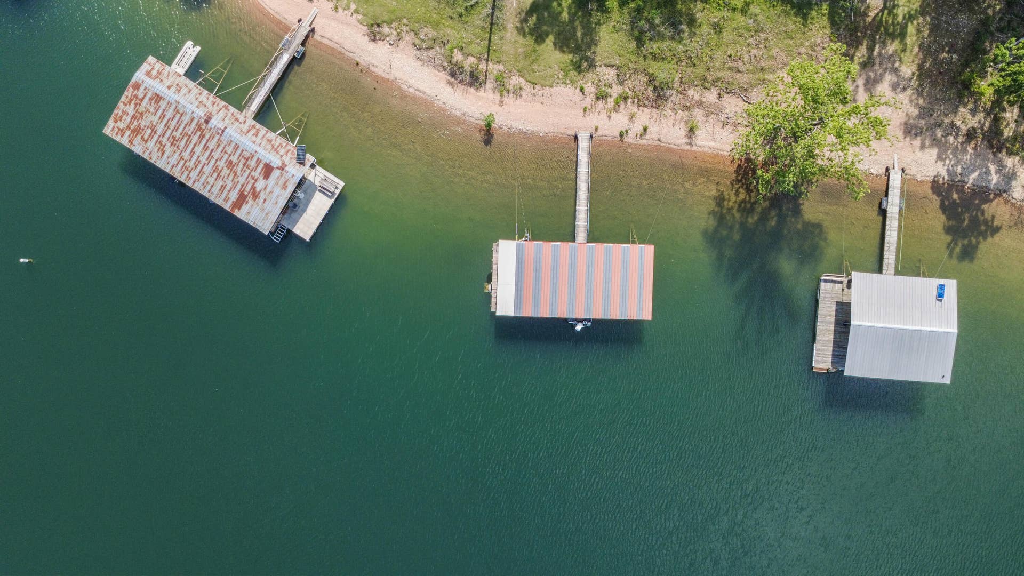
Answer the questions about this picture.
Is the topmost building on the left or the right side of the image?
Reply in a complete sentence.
You can find the topmost building on the left side of the picture.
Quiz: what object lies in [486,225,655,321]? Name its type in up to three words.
building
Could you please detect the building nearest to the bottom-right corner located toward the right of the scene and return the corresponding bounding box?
[811,272,960,383]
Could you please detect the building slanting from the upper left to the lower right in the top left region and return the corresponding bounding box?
[103,56,345,242]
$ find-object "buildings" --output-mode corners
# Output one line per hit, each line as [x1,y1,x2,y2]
[486,225,655,321]
[811,272,960,383]
[103,56,345,242]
